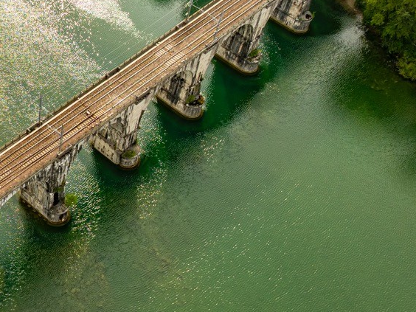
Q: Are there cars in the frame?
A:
No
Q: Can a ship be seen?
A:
No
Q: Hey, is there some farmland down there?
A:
No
